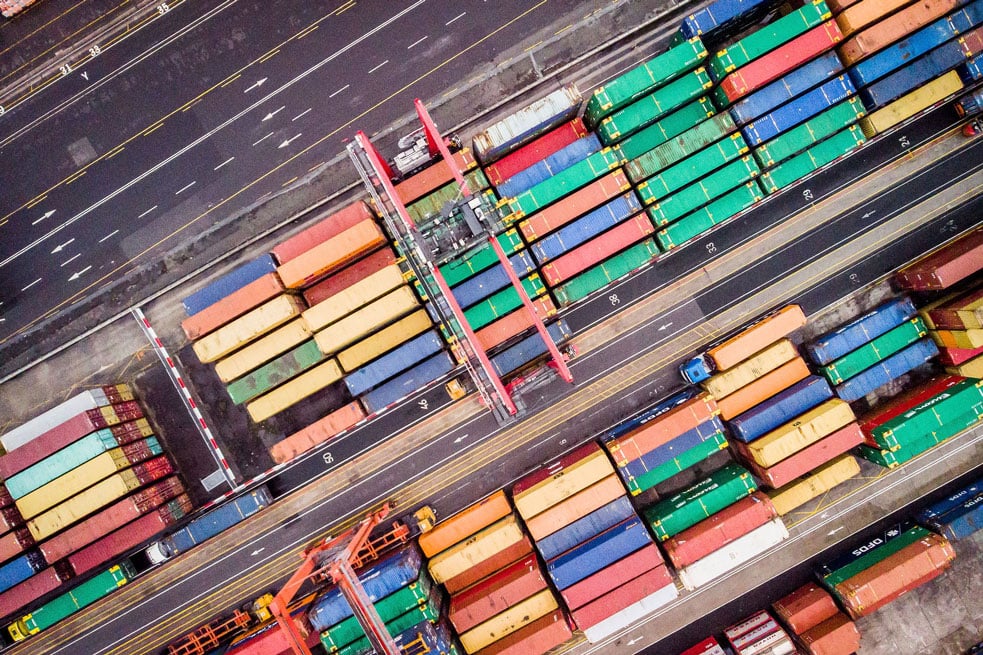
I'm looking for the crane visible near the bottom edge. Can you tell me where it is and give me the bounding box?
[270,494,447,655]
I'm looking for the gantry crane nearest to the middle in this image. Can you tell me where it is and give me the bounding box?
[338,95,587,427]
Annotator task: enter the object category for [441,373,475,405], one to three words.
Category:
truck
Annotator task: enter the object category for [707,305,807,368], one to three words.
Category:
shipping container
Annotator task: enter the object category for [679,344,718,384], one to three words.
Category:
truck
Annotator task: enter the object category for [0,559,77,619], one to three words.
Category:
shipping container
